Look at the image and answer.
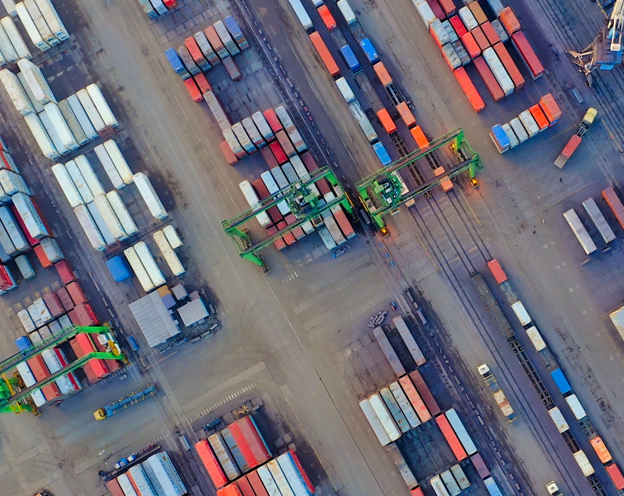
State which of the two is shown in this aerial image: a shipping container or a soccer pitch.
shipping container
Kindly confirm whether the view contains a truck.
Yes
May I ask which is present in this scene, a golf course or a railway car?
railway car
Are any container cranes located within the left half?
Yes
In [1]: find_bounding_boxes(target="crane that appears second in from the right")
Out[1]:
[353,121,483,239]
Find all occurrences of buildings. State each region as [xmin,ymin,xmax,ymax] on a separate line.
[129,290,182,348]
[172,283,189,300]
[177,299,212,327]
